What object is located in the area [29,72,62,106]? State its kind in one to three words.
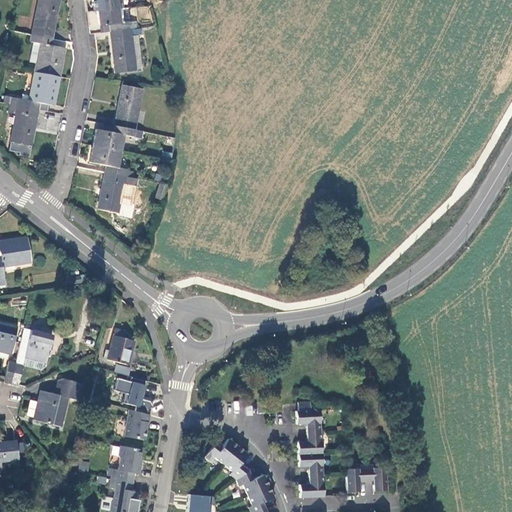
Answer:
house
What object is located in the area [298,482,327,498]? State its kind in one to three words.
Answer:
house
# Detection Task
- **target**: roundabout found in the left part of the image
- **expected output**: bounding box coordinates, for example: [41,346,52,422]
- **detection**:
[164,296,240,368]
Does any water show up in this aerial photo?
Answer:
No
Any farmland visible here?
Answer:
Yes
